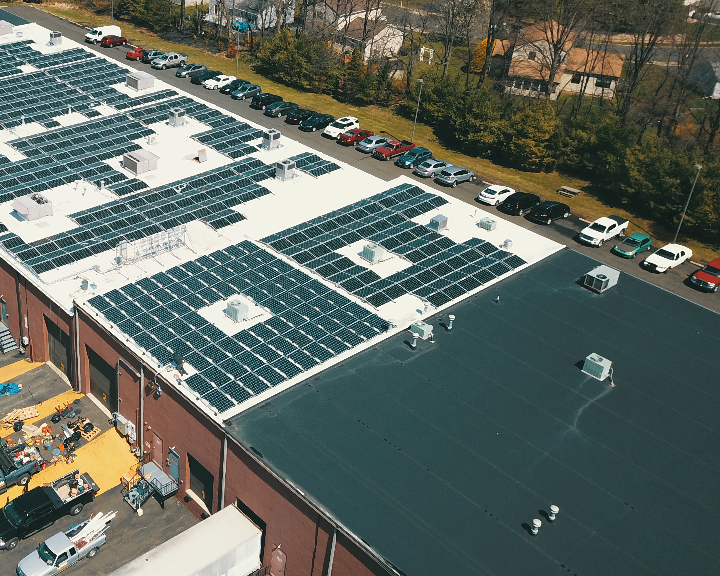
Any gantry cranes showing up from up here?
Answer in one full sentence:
No, I can't see a single gantry crane in this photo.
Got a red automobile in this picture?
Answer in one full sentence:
Yes, the photo shows a red automobile.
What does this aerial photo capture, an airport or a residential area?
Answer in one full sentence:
This looks like a residential area.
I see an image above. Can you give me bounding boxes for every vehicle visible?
[337,124,378,145]
[0,470,100,550]
[263,96,303,116]
[199,71,236,88]
[284,104,319,123]
[477,179,522,204]
[0,441,47,490]
[126,42,155,58]
[393,142,434,168]
[609,224,656,258]
[576,208,633,247]
[355,132,389,152]
[528,196,573,224]
[435,160,480,187]
[171,60,208,77]
[642,240,691,273]
[687,251,720,293]
[139,46,167,63]
[247,86,286,109]
[84,19,124,41]
[413,153,453,177]
[185,65,223,82]
[370,135,416,160]
[150,48,192,70]
[9,518,108,576]
[96,30,132,47]
[224,80,263,100]
[503,187,545,213]
[299,109,338,131]
[317,111,359,137]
